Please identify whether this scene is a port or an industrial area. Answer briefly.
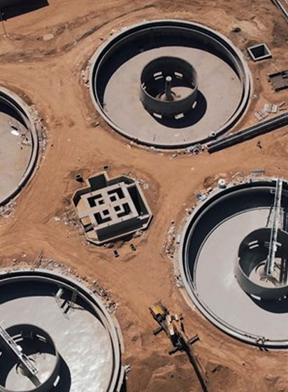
industrial area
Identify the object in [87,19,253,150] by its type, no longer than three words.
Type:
storage tank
